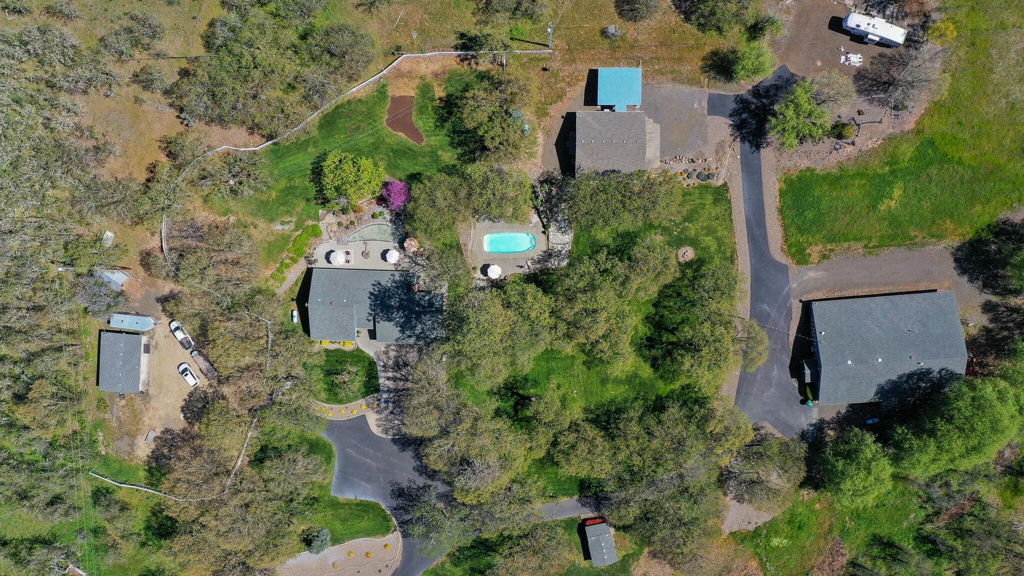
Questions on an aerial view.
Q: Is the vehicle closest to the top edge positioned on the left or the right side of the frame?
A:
right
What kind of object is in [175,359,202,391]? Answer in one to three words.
car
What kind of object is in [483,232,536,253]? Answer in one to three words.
swimming pool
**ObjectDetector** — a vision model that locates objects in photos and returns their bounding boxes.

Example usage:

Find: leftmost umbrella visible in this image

[330,249,346,265]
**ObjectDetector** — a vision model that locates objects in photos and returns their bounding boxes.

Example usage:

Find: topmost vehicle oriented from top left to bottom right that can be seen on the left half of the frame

[164,317,197,354]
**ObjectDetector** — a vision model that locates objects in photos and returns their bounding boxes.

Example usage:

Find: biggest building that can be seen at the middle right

[800,291,970,405]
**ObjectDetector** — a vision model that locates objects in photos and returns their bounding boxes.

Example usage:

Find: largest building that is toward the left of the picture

[302,268,446,345]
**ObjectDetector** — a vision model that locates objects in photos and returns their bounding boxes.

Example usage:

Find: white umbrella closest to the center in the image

[487,264,501,278]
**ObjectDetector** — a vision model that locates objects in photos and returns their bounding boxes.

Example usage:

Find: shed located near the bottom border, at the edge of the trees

[584,520,616,567]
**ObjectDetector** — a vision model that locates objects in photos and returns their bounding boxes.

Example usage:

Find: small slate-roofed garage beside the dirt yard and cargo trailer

[99,331,147,391]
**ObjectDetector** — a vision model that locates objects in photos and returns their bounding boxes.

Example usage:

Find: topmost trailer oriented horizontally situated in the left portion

[109,312,162,330]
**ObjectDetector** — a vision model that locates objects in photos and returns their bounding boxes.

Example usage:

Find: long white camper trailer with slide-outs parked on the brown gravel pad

[840,13,908,48]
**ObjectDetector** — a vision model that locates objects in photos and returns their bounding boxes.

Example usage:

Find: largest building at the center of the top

[575,111,649,178]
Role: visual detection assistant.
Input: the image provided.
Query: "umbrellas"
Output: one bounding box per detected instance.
[330,249,346,265]
[386,250,399,263]
[487,264,501,278]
